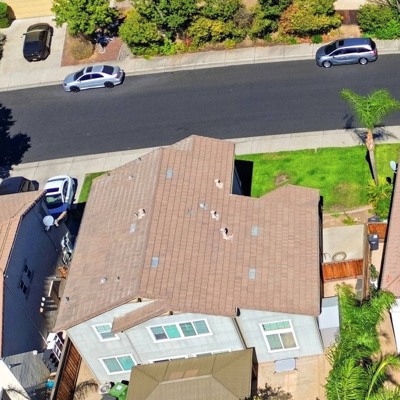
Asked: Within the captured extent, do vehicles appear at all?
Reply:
Yes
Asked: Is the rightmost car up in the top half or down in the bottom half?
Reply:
top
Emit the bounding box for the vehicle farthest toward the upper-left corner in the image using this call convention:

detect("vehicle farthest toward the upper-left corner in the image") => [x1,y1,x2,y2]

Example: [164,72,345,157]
[19,21,53,57]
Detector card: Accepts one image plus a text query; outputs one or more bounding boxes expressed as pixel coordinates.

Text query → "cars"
[45,174,79,225]
[19,21,53,57]
[61,64,127,94]
[315,38,378,71]
[0,165,42,192]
